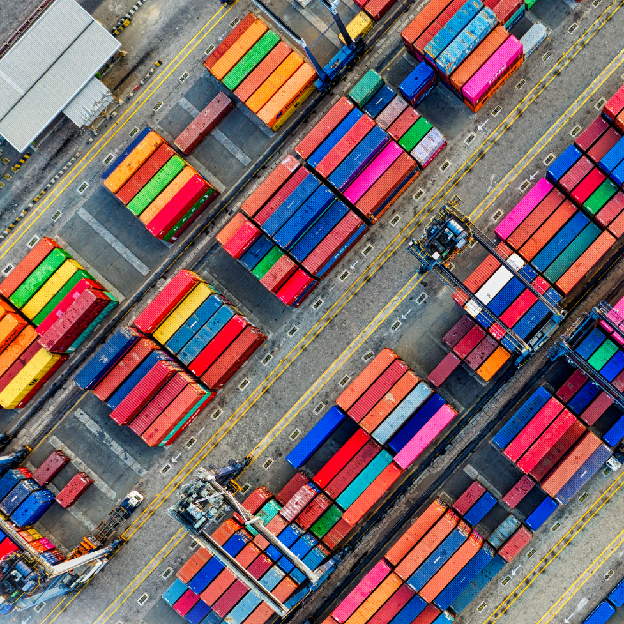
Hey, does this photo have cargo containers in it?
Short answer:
Yes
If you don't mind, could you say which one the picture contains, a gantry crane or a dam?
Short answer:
gantry crane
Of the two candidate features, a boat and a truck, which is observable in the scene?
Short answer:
truck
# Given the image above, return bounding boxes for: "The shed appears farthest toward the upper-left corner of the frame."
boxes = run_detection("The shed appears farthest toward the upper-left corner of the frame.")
[0,0,132,157]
